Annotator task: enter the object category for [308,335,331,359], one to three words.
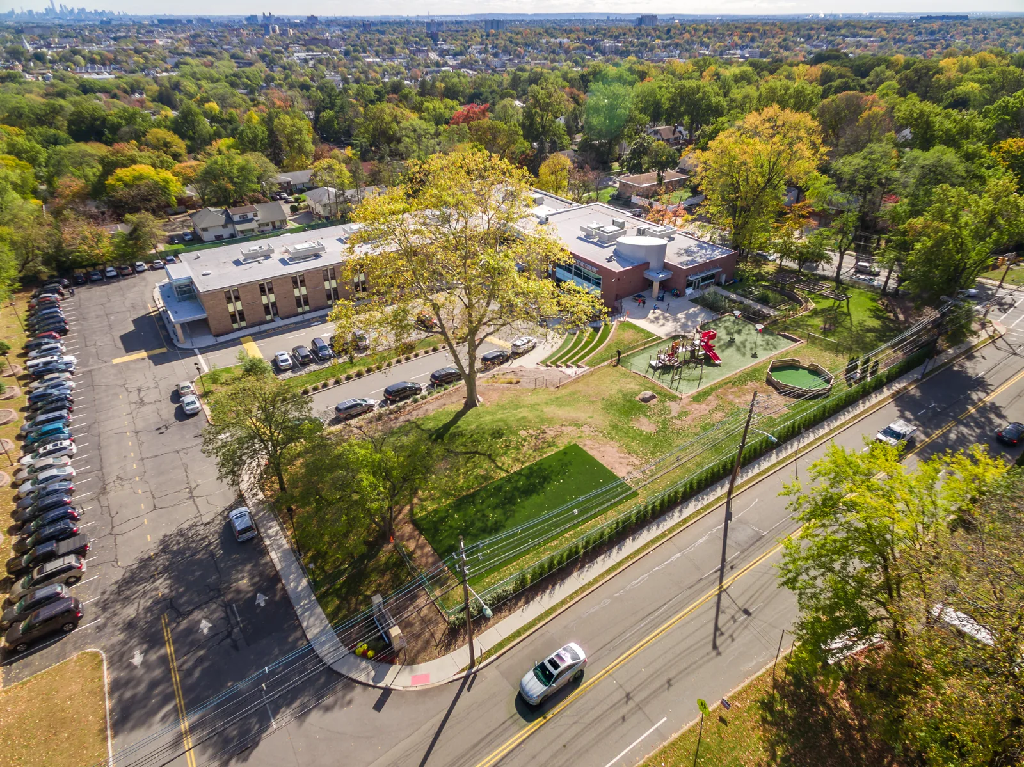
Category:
car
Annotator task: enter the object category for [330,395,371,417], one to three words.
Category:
car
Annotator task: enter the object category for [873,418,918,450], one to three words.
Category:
vehicle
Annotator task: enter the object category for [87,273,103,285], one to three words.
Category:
vehicle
